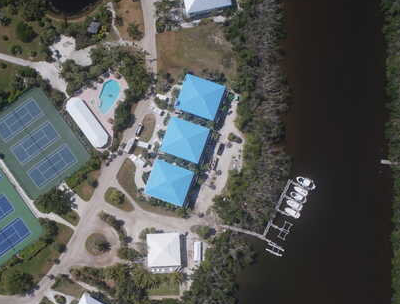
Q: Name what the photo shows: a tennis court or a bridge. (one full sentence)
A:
The image shows a tennis court.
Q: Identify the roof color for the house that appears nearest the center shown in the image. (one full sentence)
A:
From above, the roof of the house that appears nearest the center looks blue.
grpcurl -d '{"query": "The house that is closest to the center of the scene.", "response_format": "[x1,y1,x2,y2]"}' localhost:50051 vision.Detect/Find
[160,117,211,165]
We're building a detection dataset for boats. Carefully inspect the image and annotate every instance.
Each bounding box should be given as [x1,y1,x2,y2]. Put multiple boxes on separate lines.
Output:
[286,208,303,218]
[294,187,311,197]
[297,178,318,189]
[291,193,308,203]
[288,200,305,210]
